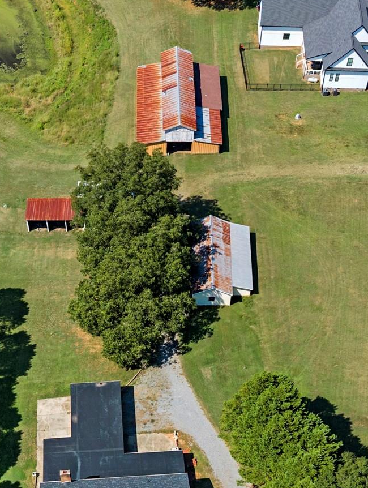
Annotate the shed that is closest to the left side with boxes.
[25,197,84,231]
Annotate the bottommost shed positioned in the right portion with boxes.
[190,215,255,307]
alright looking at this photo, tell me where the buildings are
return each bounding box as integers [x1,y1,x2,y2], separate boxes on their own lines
[257,0,368,89]
[190,215,255,307]
[37,380,190,488]
[25,197,84,231]
[136,46,223,155]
